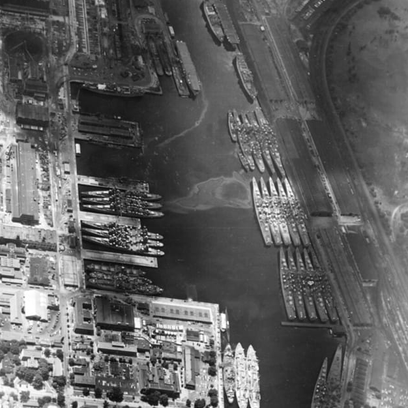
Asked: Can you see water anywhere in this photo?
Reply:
Yes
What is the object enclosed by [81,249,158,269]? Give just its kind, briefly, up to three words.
pier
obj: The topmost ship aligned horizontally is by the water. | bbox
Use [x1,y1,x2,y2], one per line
[82,81,144,98]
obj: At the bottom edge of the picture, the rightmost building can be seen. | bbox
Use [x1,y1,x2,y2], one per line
[351,360,369,403]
